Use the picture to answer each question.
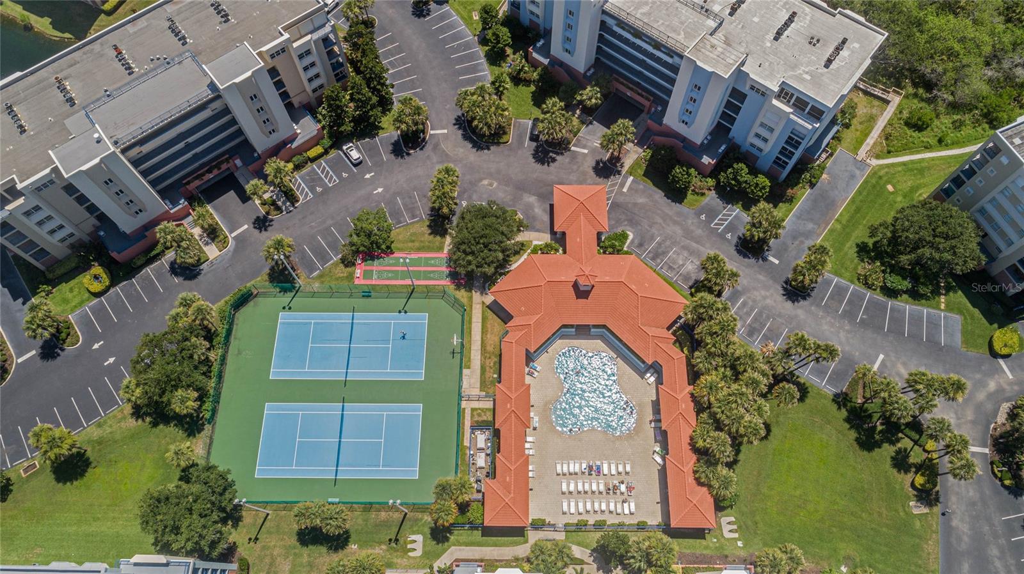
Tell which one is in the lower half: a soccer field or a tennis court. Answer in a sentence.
You can see a tennis court in the lower half.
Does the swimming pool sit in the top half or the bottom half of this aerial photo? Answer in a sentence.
It is in the bottom half that the swimming pool appears.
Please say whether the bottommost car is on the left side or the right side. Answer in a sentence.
The bottommost car appears in the left half of the scene.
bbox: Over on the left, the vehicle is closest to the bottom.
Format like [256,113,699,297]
[341,143,365,165]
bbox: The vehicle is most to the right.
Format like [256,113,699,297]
[526,119,541,143]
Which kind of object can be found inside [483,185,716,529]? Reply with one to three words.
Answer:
building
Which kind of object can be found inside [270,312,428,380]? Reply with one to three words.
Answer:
tennis court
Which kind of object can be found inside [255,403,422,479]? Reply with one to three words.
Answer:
tennis court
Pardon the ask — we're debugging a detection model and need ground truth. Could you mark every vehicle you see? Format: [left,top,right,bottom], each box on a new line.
[341,143,365,165]
[526,119,541,143]
[325,0,343,14]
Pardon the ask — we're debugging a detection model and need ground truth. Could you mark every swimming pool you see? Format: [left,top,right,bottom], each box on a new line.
[550,345,639,437]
